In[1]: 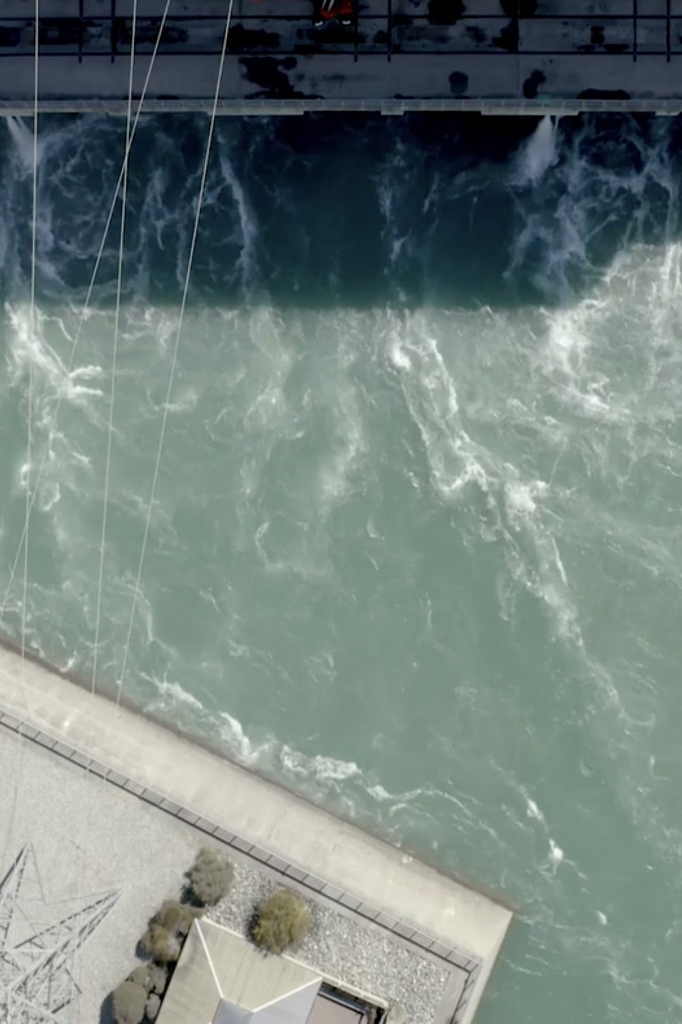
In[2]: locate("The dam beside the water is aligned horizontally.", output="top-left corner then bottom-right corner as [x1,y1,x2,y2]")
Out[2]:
[0,0,682,119]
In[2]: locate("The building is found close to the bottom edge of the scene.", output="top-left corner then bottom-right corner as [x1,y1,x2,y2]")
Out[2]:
[157,917,389,1024]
